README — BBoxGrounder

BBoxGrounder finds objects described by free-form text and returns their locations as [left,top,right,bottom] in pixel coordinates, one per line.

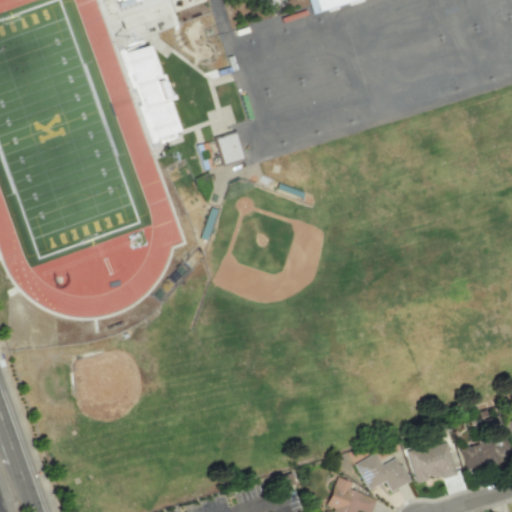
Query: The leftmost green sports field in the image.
[0,0,152,268]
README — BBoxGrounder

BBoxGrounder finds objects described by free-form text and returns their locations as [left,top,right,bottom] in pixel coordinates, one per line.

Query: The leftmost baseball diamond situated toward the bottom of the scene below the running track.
[75,350,142,420]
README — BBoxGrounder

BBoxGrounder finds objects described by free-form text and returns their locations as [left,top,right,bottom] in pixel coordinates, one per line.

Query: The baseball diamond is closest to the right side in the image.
[213,195,324,303]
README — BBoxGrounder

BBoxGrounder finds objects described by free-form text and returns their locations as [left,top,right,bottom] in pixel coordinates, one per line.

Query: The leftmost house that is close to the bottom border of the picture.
[326,474,380,512]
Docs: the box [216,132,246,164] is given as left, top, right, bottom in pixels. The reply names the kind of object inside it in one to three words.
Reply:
building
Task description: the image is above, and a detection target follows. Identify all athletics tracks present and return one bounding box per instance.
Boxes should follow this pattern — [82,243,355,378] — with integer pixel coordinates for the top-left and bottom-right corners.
[0,0,188,320]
